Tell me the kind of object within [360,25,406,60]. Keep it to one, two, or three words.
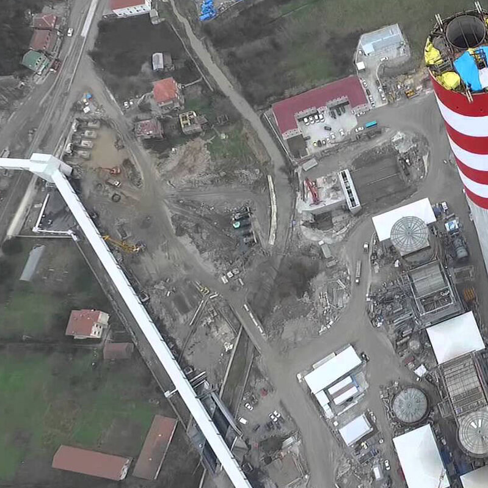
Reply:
building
